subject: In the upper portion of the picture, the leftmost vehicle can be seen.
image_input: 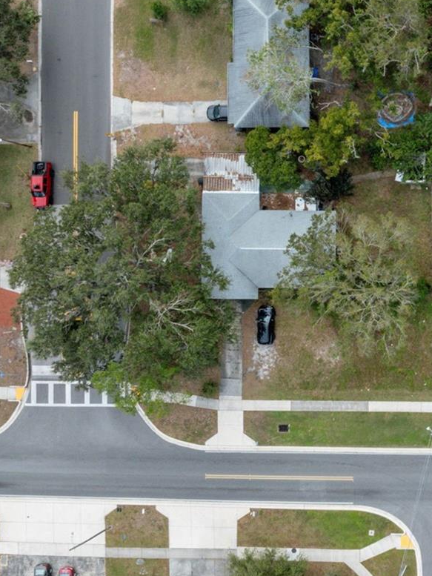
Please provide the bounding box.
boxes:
[29,160,56,210]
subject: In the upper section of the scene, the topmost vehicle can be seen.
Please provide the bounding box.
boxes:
[202,102,228,122]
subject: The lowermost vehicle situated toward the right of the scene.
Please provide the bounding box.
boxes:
[255,304,276,345]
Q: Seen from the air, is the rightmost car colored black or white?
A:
black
